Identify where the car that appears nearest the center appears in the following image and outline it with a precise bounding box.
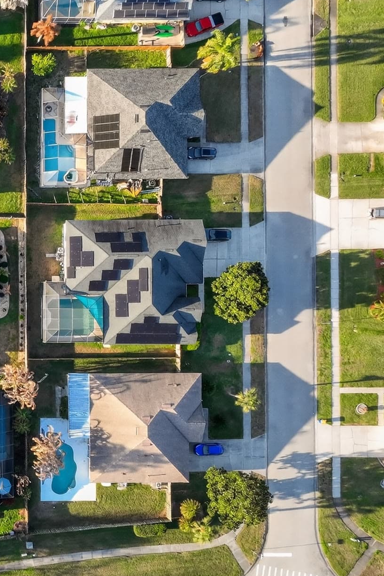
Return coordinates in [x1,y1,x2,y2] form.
[204,228,231,243]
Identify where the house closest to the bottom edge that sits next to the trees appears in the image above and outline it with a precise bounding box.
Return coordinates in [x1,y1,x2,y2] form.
[88,373,205,483]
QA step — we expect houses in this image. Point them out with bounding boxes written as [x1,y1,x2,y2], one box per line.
[94,0,191,22]
[64,220,205,344]
[88,373,205,483]
[86,67,208,178]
